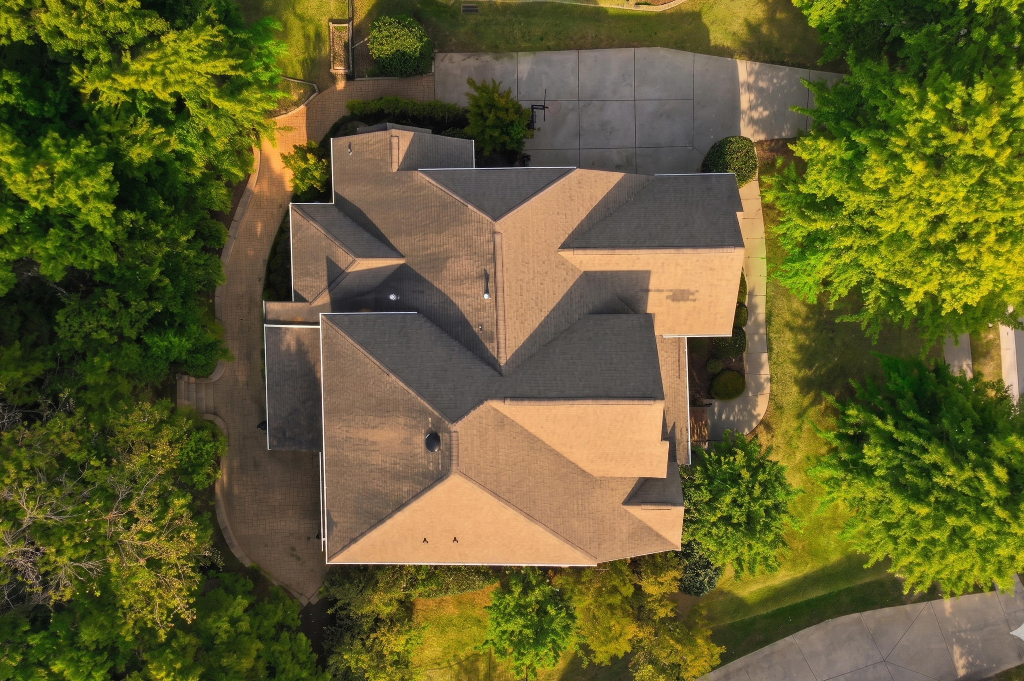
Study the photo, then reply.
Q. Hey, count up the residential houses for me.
1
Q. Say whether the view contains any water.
No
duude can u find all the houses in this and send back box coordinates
[260,124,746,568]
